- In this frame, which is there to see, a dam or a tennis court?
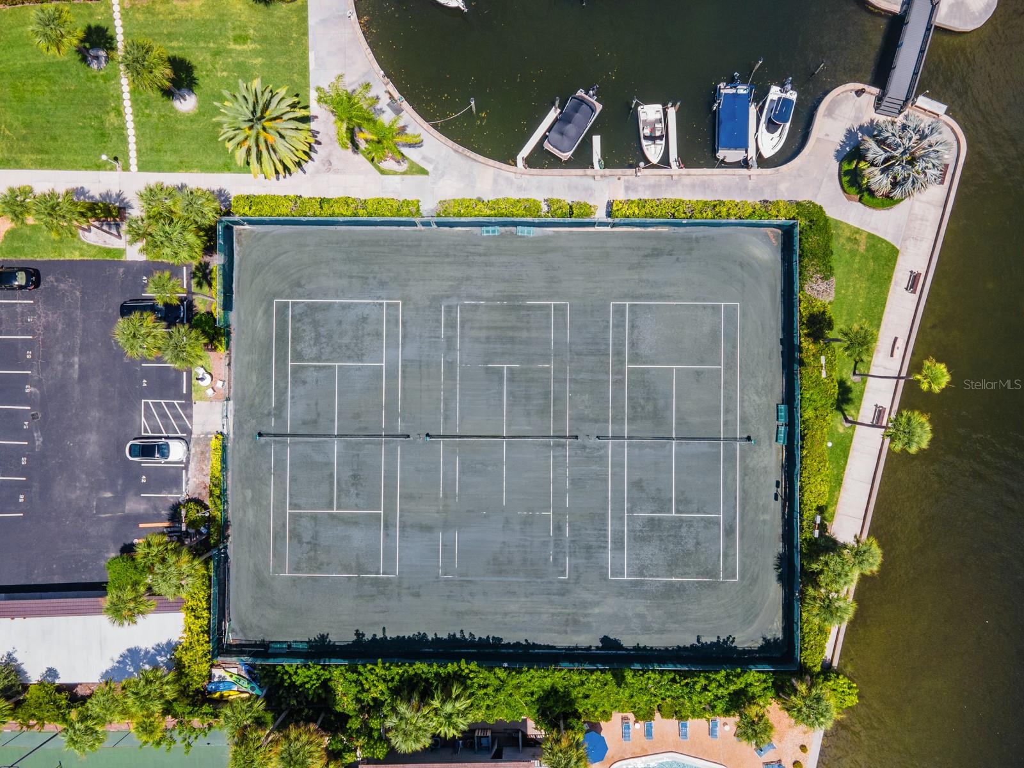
tennis court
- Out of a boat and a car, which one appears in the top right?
boat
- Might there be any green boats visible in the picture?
Yes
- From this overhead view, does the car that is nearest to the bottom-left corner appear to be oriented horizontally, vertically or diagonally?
horizontally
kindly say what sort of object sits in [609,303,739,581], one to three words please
tennis court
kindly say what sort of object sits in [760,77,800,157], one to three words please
boat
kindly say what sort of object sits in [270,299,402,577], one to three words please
tennis court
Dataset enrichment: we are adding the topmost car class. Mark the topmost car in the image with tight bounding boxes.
[0,265,43,292]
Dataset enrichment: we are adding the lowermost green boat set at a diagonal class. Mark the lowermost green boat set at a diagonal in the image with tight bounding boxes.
[222,670,262,696]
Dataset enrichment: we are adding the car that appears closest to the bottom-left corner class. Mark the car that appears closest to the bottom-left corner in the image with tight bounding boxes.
[127,436,187,463]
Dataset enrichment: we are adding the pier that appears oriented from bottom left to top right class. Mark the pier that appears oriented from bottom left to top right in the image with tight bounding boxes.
[518,108,560,166]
